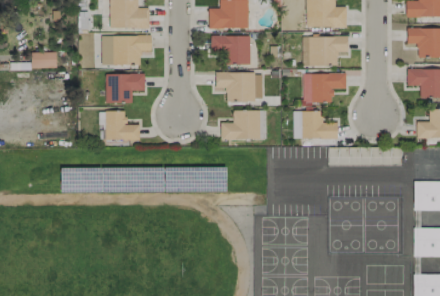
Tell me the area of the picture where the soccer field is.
bottom left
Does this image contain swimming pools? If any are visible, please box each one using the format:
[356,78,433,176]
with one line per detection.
[258,8,274,27]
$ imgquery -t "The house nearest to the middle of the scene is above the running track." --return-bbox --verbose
[220,110,266,140]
